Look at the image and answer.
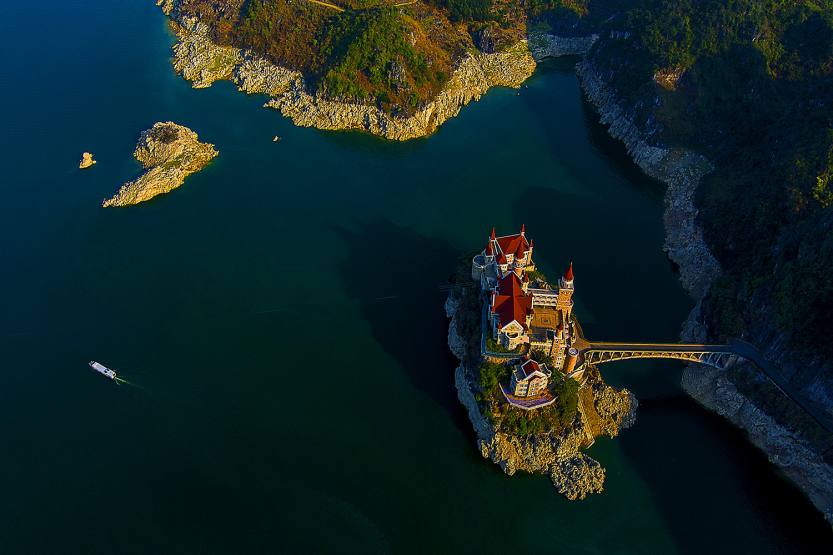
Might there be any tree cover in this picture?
Yes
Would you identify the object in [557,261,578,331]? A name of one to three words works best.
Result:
building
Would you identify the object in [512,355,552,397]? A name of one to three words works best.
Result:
house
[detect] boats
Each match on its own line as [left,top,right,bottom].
[89,360,116,378]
